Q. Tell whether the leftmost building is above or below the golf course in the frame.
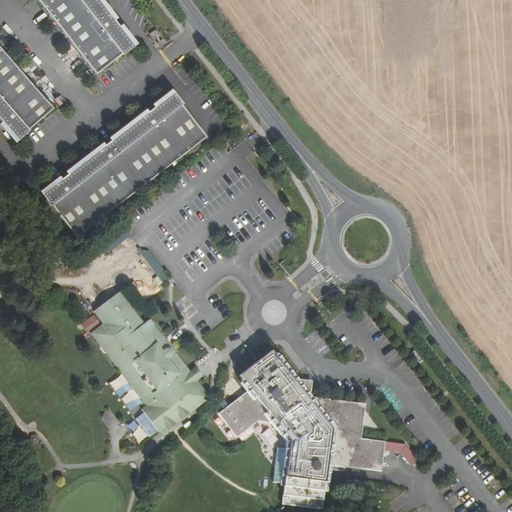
above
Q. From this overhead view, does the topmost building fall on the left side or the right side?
left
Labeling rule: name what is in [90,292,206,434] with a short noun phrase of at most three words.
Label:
building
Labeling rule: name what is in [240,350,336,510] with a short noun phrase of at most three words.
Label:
building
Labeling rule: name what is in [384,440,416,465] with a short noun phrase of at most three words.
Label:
shed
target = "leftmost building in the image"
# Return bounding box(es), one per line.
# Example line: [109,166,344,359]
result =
[0,46,55,142]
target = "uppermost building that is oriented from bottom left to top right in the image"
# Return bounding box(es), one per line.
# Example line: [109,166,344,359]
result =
[41,89,208,236]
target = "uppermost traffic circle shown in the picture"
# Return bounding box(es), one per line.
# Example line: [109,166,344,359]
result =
[321,186,414,300]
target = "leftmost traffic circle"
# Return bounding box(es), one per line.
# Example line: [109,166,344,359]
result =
[252,290,296,334]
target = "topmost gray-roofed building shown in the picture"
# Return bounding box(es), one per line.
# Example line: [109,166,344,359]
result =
[39,0,140,74]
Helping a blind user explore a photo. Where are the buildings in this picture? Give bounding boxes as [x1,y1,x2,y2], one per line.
[0,46,55,142]
[138,248,168,282]
[41,89,208,236]
[90,292,206,434]
[39,0,140,74]
[384,440,416,465]
[240,350,336,510]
